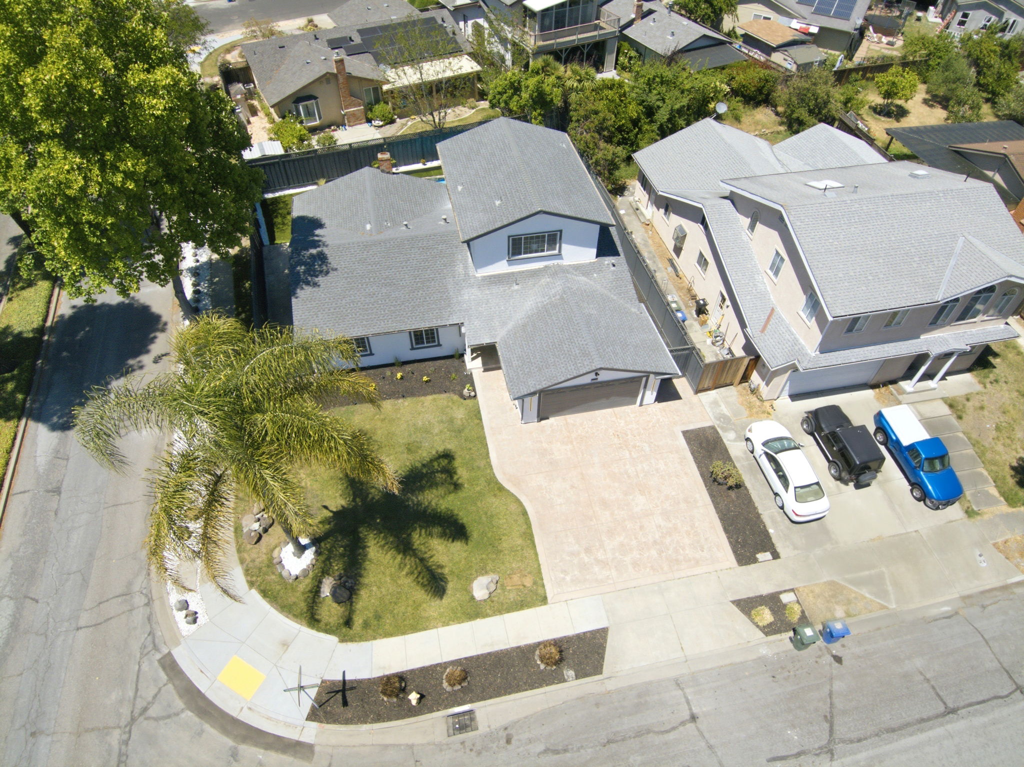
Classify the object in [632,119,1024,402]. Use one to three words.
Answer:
house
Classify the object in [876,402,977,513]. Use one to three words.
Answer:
truck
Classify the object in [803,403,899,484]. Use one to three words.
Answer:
car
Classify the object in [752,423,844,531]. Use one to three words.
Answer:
car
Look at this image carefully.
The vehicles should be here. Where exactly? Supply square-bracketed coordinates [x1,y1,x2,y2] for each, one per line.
[752,423,844,531]
[803,403,899,484]
[876,402,977,513]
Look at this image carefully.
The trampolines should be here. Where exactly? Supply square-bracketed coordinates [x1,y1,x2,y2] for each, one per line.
[862,0,919,33]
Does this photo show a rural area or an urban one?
urban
